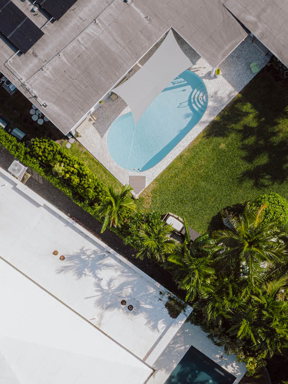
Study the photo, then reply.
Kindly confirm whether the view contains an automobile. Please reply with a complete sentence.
No, there isn't any automobile down there.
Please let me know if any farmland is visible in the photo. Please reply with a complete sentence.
No, no farmland is visible.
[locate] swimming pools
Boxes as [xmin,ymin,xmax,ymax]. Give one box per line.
[164,347,237,384]
[104,67,210,176]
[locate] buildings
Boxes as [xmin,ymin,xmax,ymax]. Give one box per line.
[0,0,288,140]
[0,168,192,384]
